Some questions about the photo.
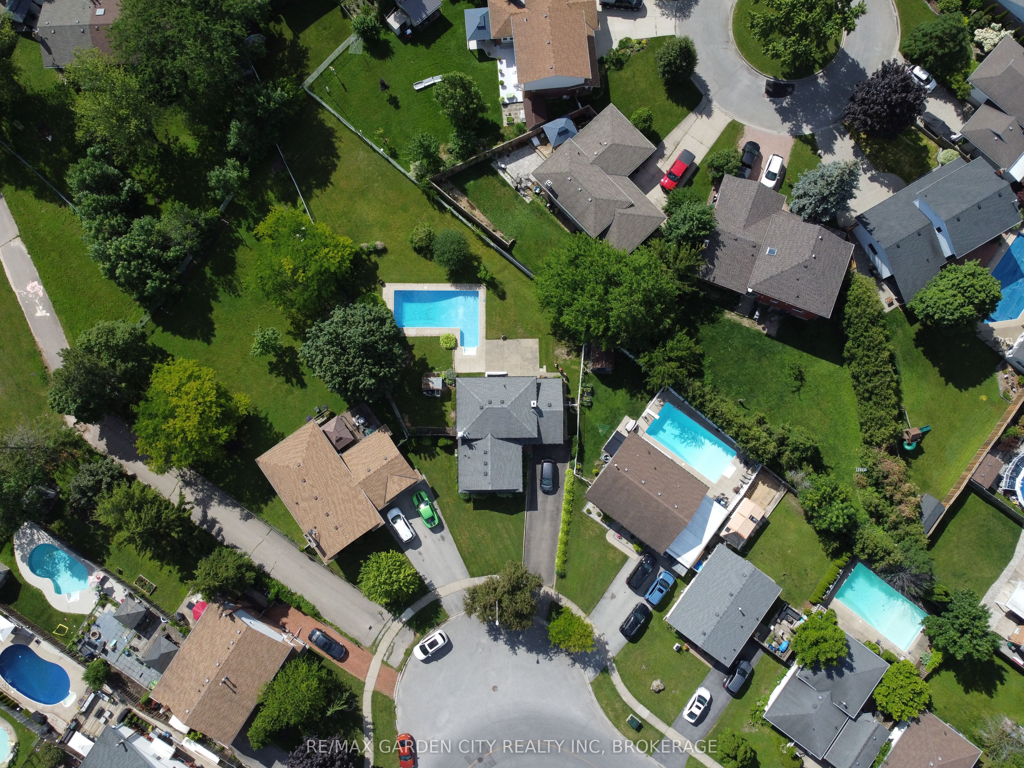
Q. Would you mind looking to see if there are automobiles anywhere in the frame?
Yes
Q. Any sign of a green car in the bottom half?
Yes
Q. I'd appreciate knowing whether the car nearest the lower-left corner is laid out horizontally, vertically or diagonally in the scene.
diagonally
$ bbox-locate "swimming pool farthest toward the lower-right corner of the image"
[835,564,924,652]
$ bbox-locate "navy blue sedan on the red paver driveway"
[309,626,345,659]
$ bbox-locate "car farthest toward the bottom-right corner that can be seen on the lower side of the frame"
[722,657,753,698]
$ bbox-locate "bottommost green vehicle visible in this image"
[412,489,439,529]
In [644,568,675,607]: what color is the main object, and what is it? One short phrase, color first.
blue car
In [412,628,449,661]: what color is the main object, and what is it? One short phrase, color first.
white car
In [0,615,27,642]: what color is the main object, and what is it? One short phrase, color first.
white gazebo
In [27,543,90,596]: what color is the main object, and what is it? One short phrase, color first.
blue swimming pool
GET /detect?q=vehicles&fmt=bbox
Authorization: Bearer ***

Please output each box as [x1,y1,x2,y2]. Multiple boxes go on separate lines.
[623,550,657,594]
[682,685,711,724]
[619,601,650,642]
[412,628,449,661]
[398,732,416,768]
[738,140,761,178]
[412,489,439,529]
[644,568,675,607]
[660,148,695,191]
[904,63,938,96]
[759,152,783,188]
[309,626,345,659]
[387,505,415,544]
[722,657,753,698]
[538,457,556,493]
